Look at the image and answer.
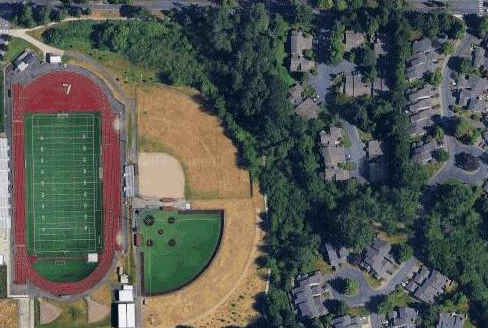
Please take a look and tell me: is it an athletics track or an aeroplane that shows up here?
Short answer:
athletics track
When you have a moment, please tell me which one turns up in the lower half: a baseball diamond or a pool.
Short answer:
baseball diamond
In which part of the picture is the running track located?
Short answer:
left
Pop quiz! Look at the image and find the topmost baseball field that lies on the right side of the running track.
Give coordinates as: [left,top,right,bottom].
[139,151,184,198]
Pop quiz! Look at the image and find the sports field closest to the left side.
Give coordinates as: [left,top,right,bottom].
[24,112,102,283]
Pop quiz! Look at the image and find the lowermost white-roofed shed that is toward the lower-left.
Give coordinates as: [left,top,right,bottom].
[118,304,135,328]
